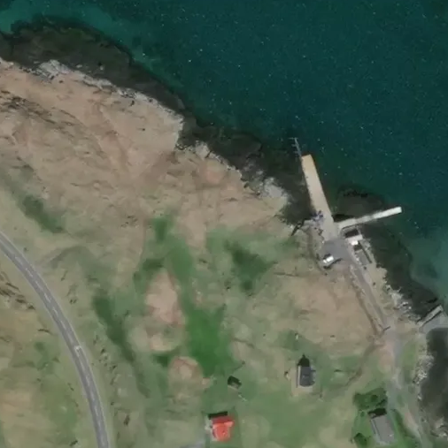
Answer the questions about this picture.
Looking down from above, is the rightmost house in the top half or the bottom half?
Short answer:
bottom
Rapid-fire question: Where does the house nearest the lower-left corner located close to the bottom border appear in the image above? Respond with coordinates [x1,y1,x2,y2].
[211,414,234,442]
